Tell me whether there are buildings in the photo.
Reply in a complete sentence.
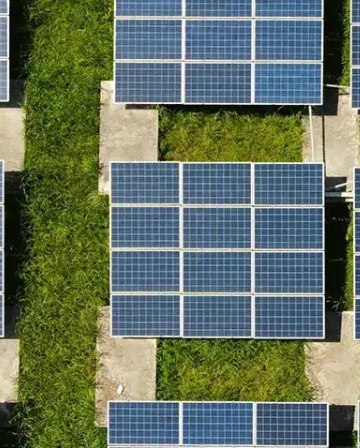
No, there isn't any building down there.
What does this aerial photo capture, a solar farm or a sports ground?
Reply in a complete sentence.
What you see here is a solar farm.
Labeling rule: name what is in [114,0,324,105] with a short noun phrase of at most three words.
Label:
solar array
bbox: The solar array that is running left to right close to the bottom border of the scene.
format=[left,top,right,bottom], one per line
[107,399,329,448]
